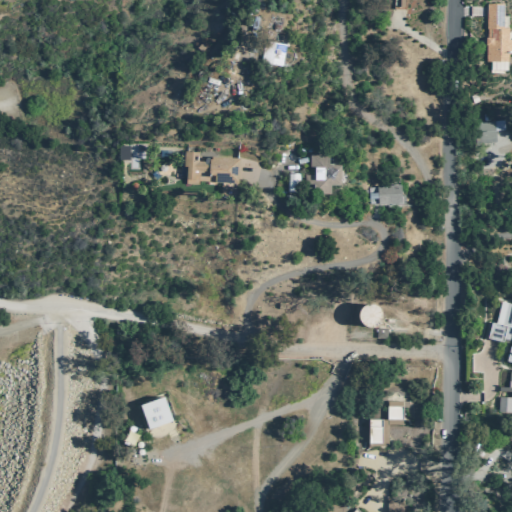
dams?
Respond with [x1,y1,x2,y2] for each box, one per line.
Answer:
[0,313,98,512]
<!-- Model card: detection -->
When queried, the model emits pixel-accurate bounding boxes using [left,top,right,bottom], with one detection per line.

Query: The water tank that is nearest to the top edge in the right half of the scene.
[360,304,384,328]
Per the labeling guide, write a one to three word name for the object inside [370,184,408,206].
house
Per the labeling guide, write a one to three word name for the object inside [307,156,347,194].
house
